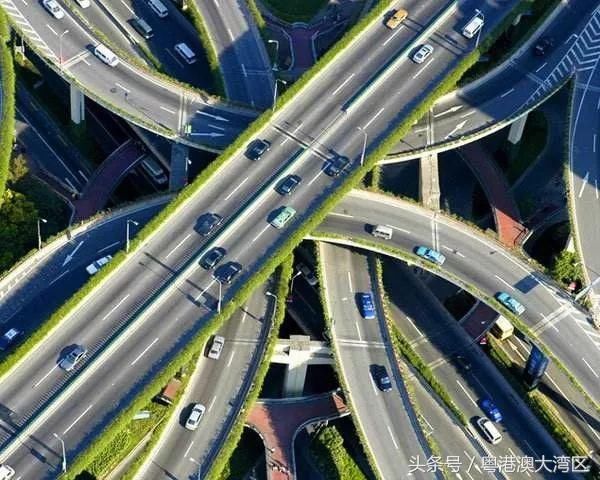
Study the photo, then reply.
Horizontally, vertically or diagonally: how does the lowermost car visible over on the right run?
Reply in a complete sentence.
What the image shows is the lowermost car visible over on the right lying diagonally.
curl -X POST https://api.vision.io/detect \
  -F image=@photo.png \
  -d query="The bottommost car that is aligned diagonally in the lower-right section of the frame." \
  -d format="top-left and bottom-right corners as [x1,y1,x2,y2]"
[478,417,503,445]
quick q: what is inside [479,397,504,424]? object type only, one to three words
car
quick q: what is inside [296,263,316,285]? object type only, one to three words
car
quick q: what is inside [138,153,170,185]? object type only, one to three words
vehicle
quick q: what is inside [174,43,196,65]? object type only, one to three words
vehicle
